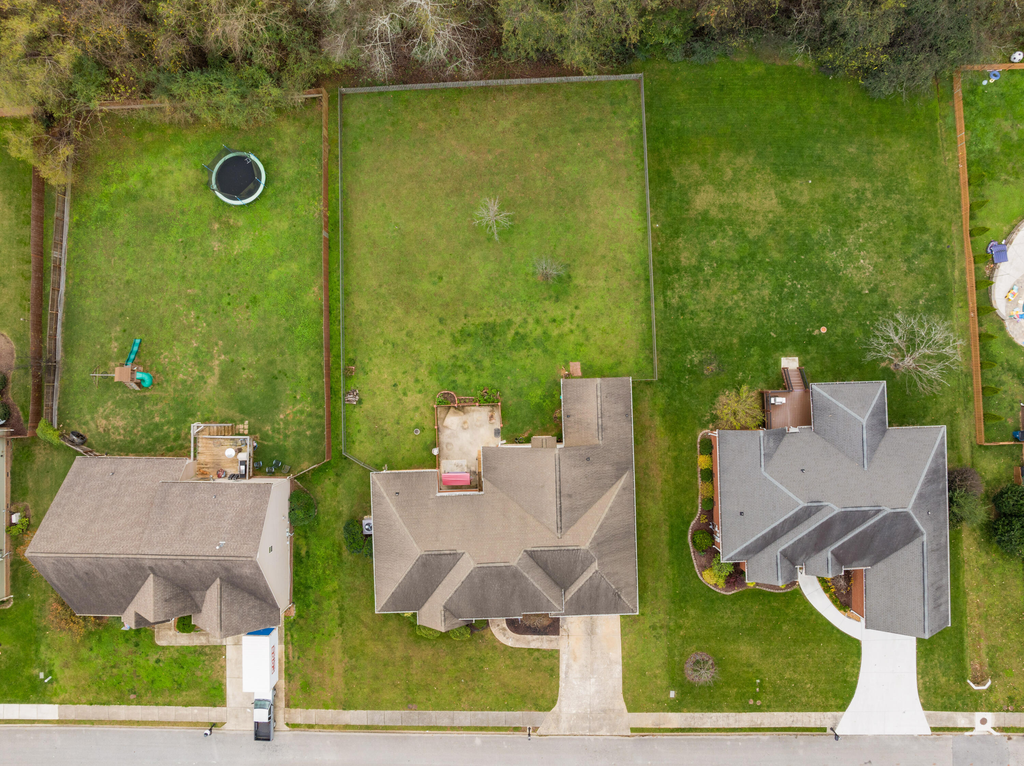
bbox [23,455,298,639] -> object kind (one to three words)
house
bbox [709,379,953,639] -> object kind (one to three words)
house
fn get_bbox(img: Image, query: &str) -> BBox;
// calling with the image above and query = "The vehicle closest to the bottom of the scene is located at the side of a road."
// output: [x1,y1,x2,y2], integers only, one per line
[249,685,279,740]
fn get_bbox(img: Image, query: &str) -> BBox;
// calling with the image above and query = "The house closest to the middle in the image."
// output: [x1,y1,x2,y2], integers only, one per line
[369,377,640,633]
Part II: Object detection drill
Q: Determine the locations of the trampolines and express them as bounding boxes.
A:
[203,144,267,207]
